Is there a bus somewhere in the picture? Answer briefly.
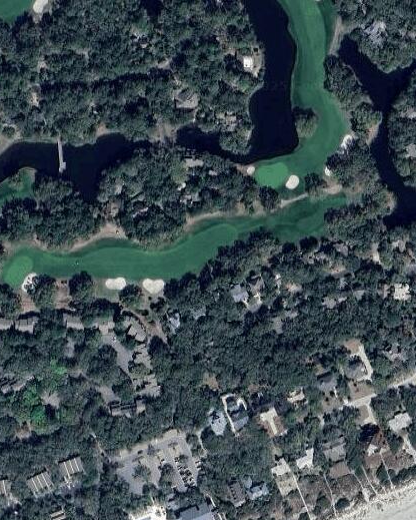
No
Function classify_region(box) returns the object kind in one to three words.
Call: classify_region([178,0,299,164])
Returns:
pond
